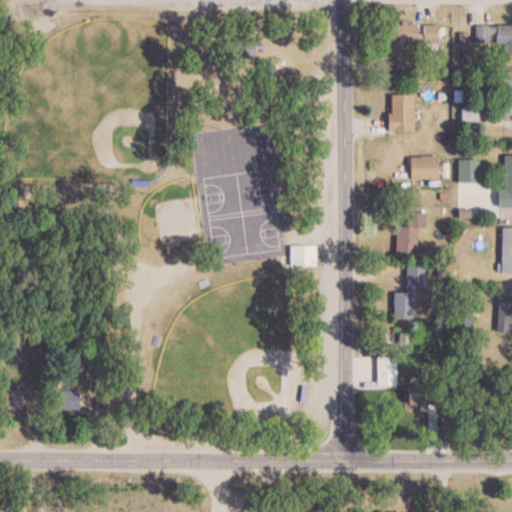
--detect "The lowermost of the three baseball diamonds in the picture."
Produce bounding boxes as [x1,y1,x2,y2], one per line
[154,275,303,430]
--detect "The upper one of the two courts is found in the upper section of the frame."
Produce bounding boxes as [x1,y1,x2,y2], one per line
[204,169,276,216]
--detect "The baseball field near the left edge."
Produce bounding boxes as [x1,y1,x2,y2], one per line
[5,20,168,180]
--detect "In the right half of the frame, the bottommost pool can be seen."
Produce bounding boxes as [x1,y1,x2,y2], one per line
[474,234,488,253]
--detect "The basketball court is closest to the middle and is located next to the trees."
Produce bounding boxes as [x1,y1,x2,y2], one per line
[210,214,280,256]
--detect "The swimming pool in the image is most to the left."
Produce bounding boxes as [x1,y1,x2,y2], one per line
[422,87,436,102]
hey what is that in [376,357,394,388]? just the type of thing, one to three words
house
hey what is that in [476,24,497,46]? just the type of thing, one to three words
house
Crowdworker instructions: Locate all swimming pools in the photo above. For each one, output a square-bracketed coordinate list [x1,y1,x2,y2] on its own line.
[474,234,488,253]
[422,87,436,102]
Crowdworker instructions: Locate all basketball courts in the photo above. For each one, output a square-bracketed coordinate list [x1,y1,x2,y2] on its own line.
[210,214,280,256]
[204,169,276,216]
